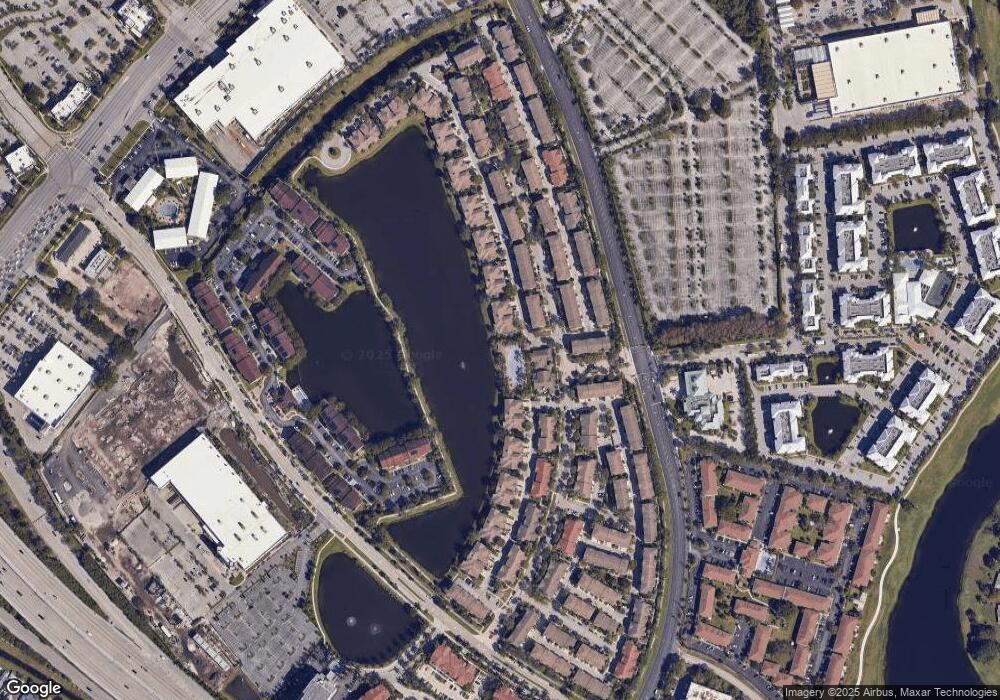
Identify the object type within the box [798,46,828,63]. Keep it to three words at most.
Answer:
greenhouse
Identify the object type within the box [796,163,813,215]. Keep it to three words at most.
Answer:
building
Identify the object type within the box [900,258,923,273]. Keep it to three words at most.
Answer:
swimming pool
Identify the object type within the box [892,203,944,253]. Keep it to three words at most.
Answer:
pond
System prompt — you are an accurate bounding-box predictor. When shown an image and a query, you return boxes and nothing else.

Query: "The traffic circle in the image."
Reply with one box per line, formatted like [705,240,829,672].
[320,138,352,169]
